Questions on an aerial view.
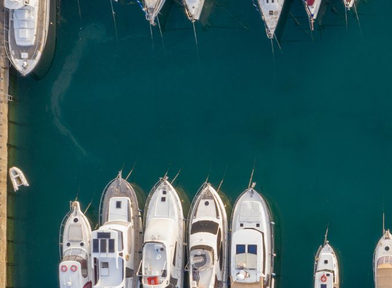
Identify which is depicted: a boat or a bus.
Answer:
boat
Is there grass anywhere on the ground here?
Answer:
No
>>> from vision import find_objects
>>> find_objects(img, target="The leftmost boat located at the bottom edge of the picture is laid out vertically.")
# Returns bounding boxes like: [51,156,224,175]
[60,200,96,288]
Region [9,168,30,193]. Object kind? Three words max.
boat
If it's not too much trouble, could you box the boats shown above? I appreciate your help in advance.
[138,177,191,288]
[374,231,392,288]
[142,0,170,23]
[315,242,340,288]
[92,170,146,288]
[255,0,288,38]
[186,181,234,288]
[303,0,325,31]
[60,200,96,288]
[340,0,358,9]
[0,0,61,76]
[183,0,209,21]
[229,186,278,288]
[9,168,30,193]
